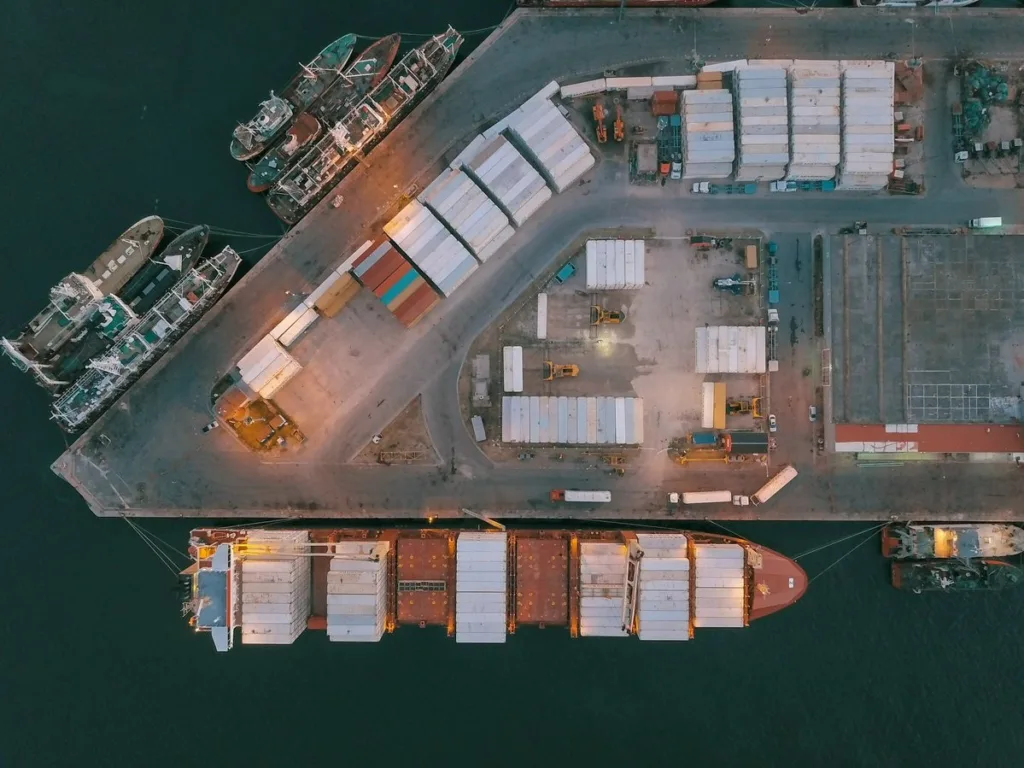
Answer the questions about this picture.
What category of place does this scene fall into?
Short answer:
port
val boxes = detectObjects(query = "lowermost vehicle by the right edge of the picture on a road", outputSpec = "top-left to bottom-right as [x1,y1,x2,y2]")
[967,215,1006,228]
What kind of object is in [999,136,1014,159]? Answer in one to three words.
vehicle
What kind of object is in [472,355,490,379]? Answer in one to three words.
house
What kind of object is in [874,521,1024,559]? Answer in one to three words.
boat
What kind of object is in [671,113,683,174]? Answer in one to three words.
vehicle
